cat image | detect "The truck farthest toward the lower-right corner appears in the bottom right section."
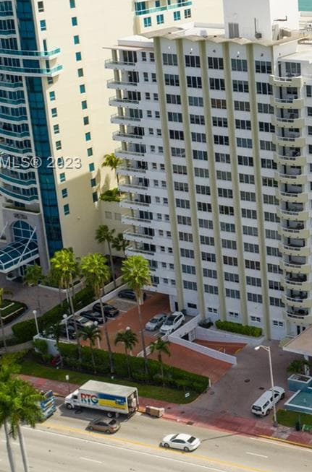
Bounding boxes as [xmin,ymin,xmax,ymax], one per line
[252,384,284,411]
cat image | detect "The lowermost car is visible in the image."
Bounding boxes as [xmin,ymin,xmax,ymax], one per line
[161,434,201,452]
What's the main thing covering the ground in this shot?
buildings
